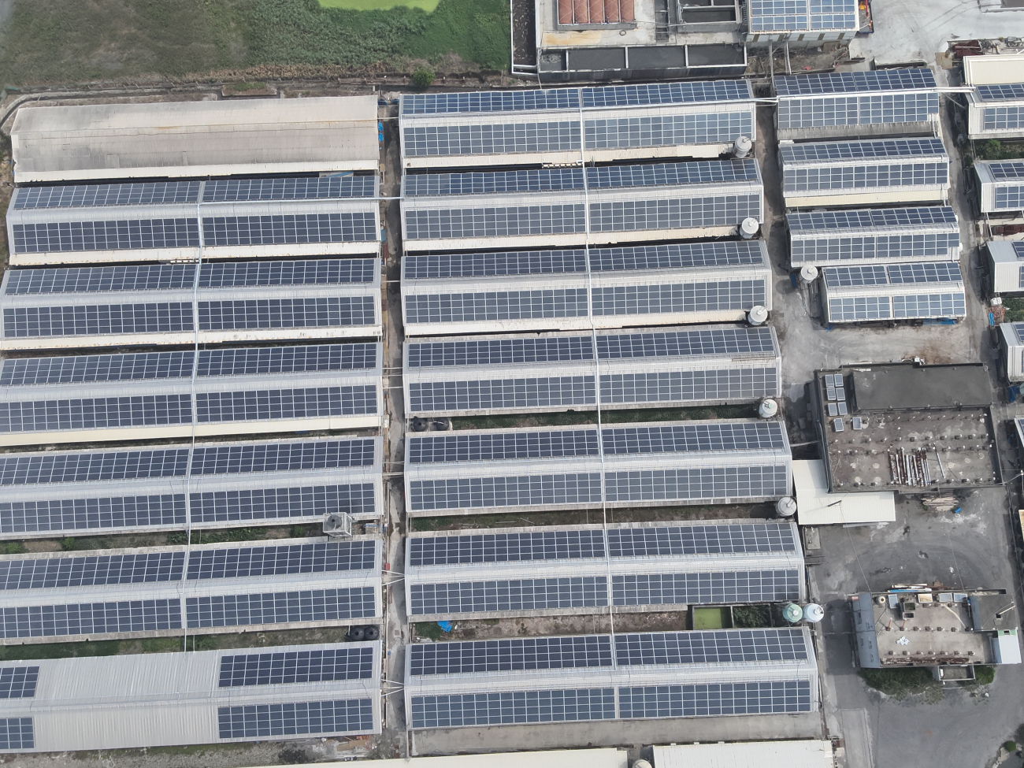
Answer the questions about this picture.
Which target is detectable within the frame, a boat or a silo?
silo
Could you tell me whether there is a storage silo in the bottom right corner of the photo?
Yes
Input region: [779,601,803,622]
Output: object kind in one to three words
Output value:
silo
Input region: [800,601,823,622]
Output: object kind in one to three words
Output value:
silo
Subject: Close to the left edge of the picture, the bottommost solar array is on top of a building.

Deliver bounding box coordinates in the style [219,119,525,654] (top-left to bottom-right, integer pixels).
[0,718,35,750]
